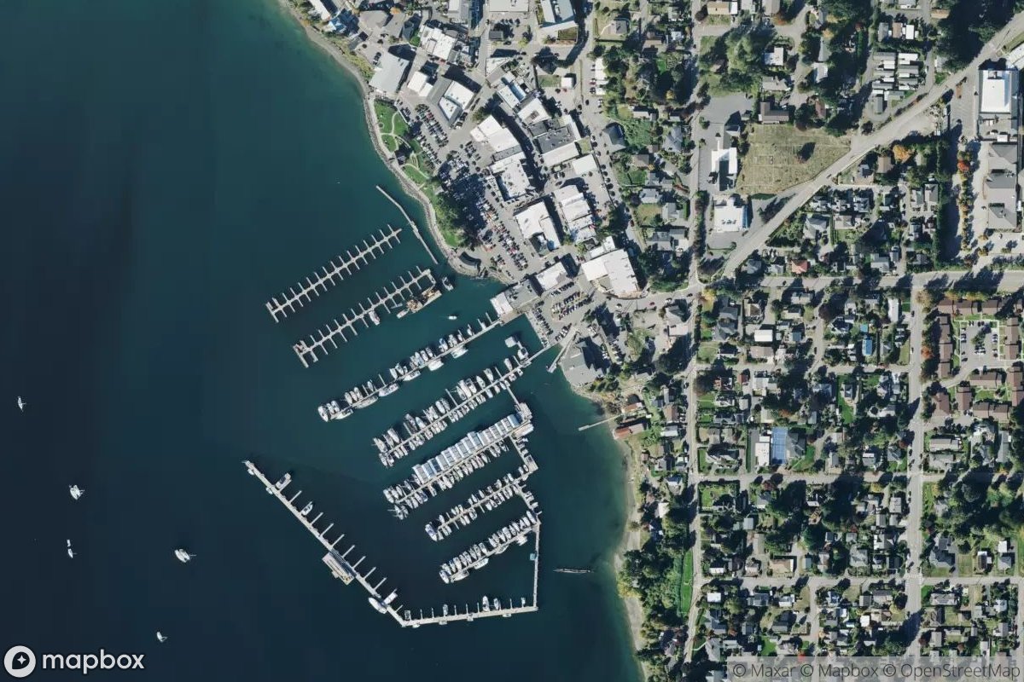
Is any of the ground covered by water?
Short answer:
Yes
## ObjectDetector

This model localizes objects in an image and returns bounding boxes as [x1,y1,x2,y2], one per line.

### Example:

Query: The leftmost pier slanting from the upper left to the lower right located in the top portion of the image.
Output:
[376,185,438,264]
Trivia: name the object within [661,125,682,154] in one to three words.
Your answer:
house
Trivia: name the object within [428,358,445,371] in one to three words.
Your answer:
boat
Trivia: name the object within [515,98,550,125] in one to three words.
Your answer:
building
